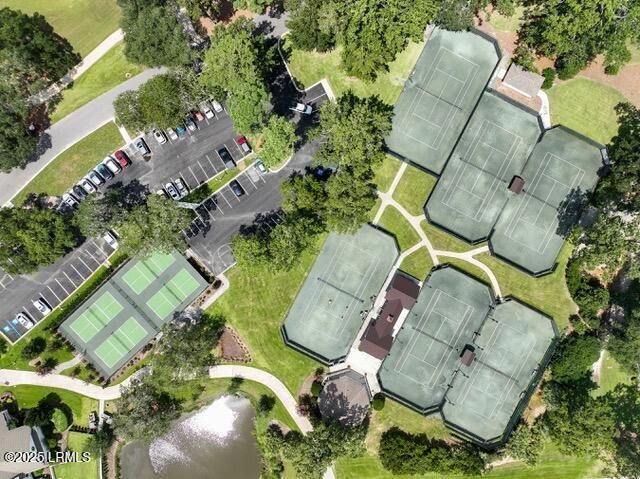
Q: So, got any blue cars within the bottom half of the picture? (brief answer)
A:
No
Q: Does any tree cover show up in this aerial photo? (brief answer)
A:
Yes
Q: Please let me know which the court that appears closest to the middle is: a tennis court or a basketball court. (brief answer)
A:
tennis court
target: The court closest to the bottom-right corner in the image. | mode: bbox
[441,294,561,443]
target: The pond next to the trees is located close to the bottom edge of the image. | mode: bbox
[119,394,262,479]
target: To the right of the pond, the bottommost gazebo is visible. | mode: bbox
[319,370,374,428]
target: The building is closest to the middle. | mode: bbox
[358,268,421,360]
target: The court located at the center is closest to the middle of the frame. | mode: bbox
[281,213,401,361]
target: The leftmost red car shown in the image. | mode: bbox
[114,150,129,168]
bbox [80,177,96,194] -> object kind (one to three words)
car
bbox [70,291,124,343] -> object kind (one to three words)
sports court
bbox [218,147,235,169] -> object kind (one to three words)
vehicle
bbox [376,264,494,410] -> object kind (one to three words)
tennis court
